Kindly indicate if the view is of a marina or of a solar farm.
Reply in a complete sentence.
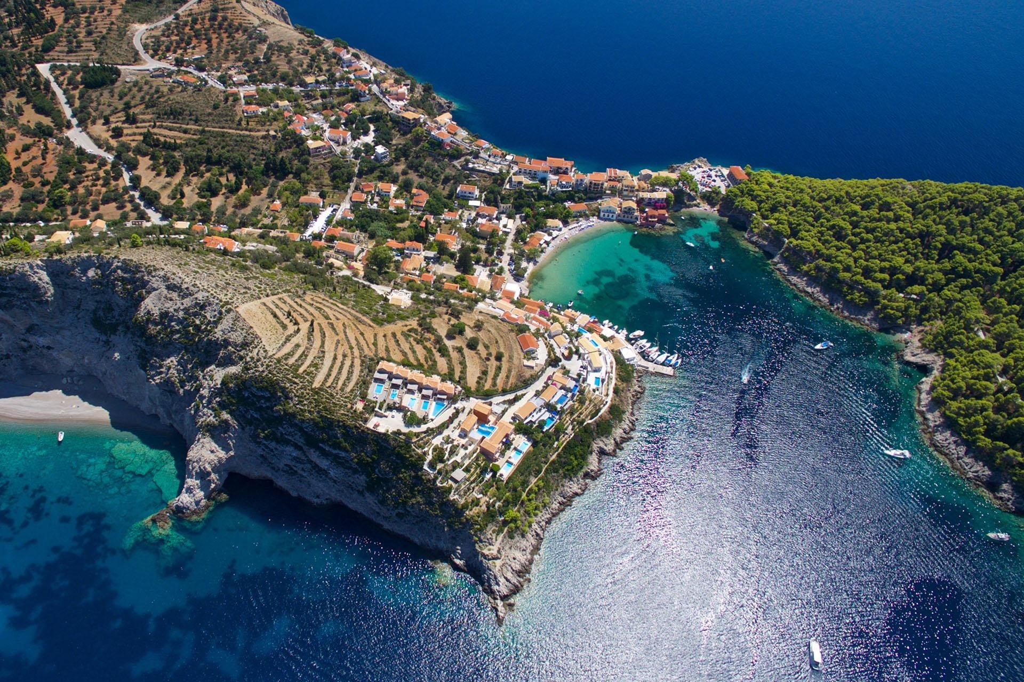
This looks like a marina.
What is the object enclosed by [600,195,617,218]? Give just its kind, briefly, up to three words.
house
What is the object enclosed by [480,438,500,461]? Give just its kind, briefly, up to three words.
house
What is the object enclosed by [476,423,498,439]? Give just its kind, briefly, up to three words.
swimming pool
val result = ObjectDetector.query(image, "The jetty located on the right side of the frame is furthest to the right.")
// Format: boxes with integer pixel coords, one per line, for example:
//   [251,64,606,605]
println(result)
[623,339,674,377]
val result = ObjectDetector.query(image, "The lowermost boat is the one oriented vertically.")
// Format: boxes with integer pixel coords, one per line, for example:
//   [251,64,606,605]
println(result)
[810,636,823,670]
